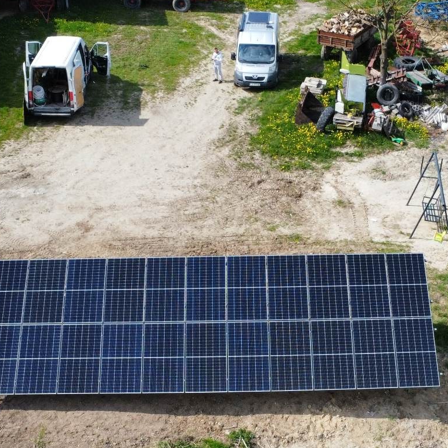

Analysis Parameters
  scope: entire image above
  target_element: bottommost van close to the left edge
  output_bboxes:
[21,41,108,115]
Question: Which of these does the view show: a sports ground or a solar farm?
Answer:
solar farm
